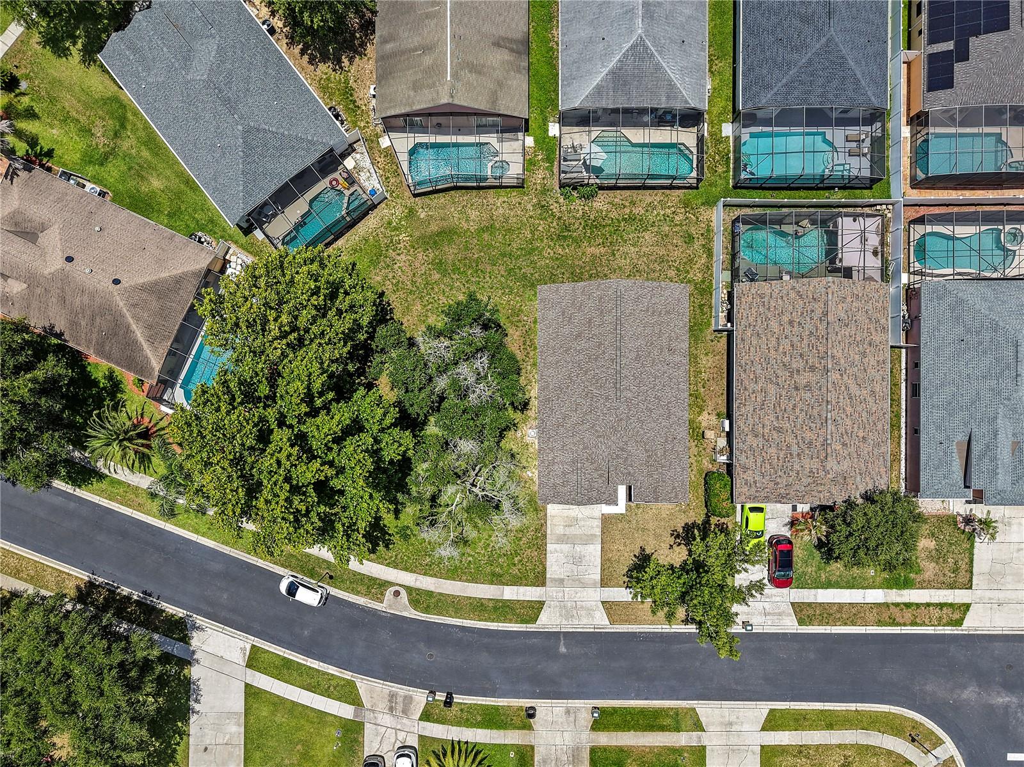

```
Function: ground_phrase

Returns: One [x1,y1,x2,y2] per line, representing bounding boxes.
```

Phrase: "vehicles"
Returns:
[768,534,797,588]
[742,504,770,552]
[278,572,331,608]
[363,753,387,767]
[395,744,418,767]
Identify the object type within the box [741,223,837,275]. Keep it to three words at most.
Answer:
swimming pool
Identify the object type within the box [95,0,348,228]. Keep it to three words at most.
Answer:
house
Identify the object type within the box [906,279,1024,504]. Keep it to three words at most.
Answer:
house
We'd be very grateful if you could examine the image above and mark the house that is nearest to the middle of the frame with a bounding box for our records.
[538,279,689,504]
